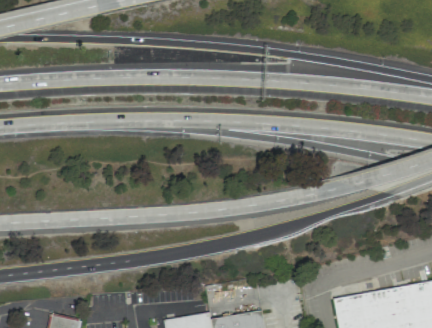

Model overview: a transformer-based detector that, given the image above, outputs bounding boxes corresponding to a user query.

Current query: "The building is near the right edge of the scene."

[334,280,432,328]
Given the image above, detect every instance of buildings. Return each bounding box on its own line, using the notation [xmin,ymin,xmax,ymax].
[50,314,82,328]
[212,312,262,328]
[164,313,211,328]
[334,280,432,328]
